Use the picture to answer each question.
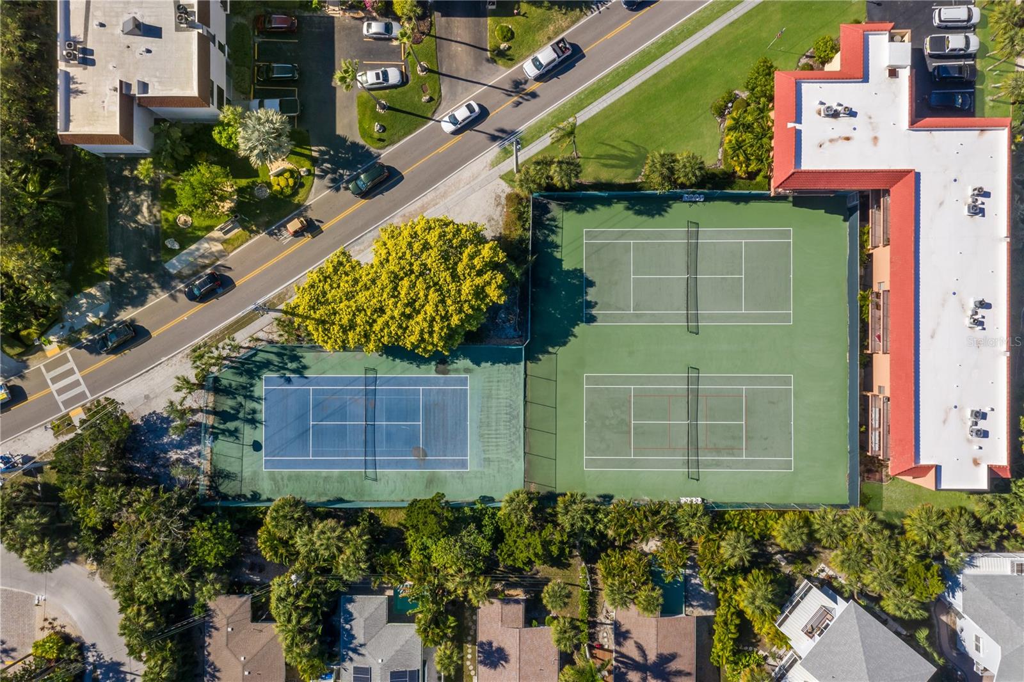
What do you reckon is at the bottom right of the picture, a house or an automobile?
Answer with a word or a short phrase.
house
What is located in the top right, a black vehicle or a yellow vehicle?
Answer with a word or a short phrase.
black vehicle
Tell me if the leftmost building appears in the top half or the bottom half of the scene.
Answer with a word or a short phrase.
top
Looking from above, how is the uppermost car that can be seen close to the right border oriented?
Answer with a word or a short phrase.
from side to side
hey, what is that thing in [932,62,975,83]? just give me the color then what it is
black car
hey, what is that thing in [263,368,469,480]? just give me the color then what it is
blue tennis court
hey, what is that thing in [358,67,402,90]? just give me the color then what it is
white car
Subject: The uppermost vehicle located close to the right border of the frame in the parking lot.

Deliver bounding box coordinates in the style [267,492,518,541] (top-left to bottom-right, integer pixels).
[932,5,979,28]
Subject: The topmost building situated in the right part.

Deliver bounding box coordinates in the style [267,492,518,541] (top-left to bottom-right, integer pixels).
[761,24,1010,489]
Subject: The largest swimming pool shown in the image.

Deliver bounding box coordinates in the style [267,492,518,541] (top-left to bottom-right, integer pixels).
[649,553,687,613]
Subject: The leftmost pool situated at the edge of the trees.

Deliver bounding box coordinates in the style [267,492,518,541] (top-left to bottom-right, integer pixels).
[392,585,422,616]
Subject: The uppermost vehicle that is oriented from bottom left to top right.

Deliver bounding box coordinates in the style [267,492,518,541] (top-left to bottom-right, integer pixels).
[523,36,573,80]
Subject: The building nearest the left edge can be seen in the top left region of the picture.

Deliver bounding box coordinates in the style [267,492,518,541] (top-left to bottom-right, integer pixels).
[58,0,229,150]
